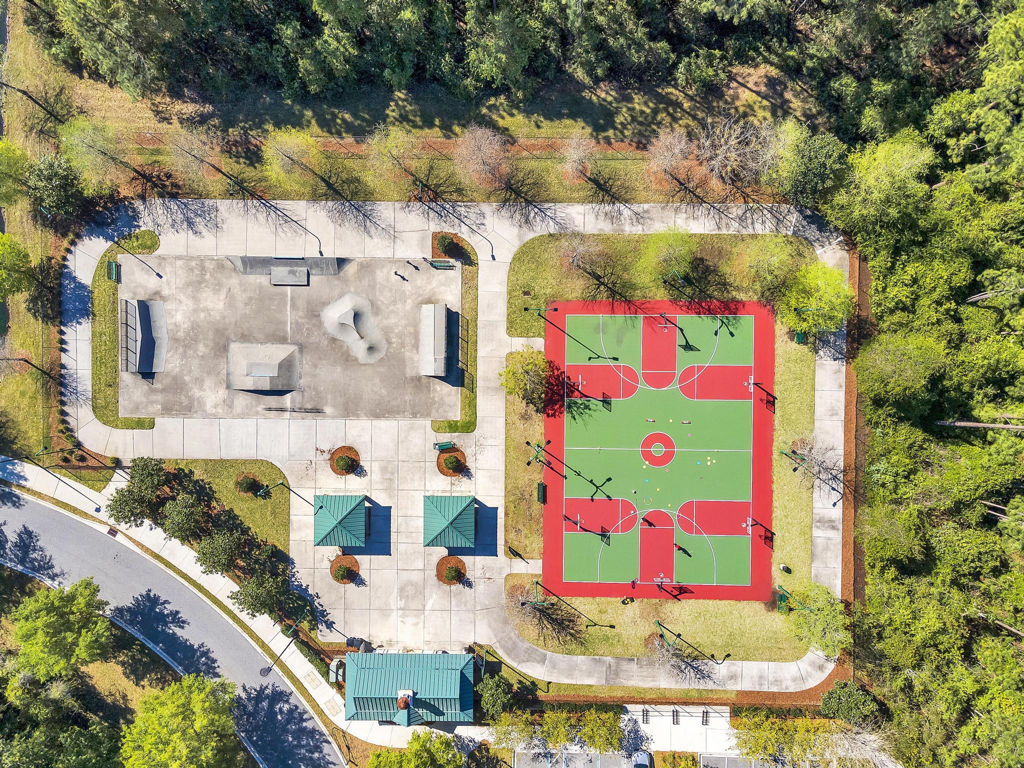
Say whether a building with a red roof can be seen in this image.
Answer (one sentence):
No, there appears to be no building with a red roof in this shot.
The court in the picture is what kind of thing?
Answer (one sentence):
The court in the image is a basketball court.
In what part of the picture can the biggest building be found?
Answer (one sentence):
The biggest building appears toward the bottom of the photo.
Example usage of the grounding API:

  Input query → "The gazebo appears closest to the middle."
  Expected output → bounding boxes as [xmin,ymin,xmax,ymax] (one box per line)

[423,496,475,547]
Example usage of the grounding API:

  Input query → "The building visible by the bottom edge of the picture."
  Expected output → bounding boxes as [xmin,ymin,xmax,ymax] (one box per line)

[345,643,473,734]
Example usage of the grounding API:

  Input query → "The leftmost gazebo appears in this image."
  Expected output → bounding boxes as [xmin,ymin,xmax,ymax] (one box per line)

[313,495,367,547]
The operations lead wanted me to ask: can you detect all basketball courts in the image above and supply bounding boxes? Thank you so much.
[542,300,774,601]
